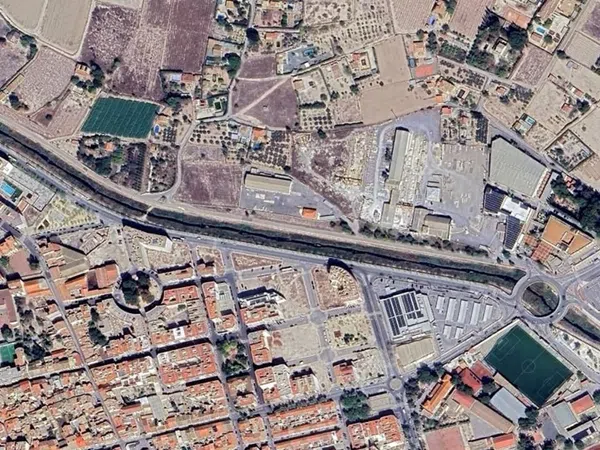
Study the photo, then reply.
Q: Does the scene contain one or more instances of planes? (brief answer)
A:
No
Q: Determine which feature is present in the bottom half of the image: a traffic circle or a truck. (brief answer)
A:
traffic circle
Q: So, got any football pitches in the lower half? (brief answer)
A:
Yes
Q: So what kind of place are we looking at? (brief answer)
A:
residential area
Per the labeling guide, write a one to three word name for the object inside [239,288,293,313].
building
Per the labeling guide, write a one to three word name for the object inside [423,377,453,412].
building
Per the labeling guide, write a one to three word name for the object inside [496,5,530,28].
house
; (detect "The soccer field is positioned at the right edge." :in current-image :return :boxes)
[473,319,579,411]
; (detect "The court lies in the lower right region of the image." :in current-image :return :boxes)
[426,426,465,450]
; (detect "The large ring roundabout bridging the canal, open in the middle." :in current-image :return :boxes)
[517,274,566,323]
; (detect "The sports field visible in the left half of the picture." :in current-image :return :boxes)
[80,96,161,139]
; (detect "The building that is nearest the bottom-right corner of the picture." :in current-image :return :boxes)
[564,422,598,445]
